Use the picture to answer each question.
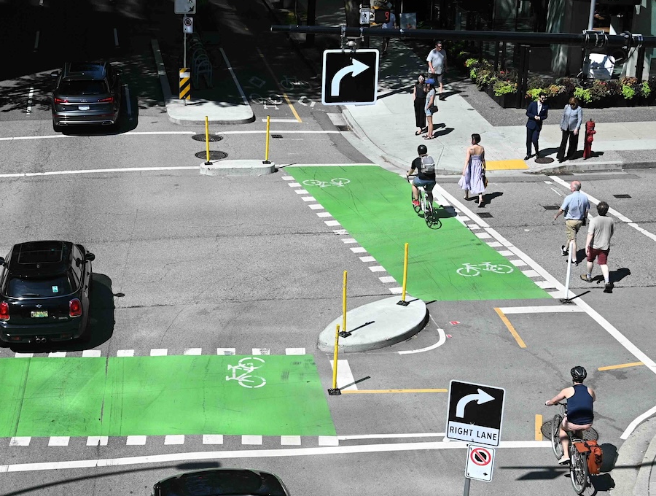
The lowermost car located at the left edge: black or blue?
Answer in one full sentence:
The lowermost car located at the left edge is black.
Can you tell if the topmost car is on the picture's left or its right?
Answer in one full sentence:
It is on the left.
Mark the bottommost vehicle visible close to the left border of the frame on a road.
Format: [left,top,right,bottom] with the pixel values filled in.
[0,239,98,345]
